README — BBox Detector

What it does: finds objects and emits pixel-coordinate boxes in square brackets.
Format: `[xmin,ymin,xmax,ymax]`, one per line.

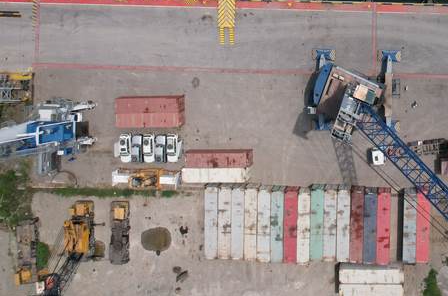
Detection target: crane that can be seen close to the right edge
[309,48,448,234]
